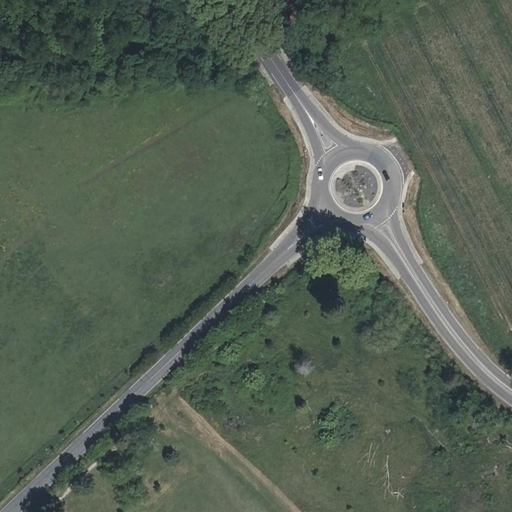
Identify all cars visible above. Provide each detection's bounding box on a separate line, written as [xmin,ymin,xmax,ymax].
[362,212,373,220]
[317,166,324,180]
[382,169,390,182]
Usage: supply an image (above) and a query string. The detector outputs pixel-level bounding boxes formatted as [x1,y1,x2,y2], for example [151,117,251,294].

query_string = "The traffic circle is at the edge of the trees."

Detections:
[296,132,404,248]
